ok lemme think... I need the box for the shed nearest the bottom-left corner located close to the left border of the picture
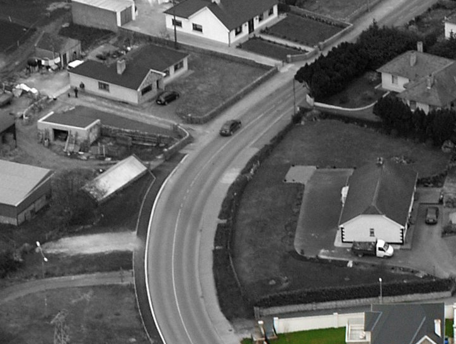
[0,159,59,228]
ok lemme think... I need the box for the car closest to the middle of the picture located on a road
[219,121,241,136]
